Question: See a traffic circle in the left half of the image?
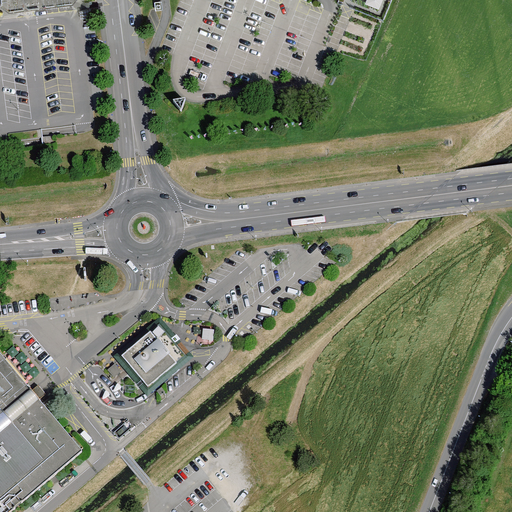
Yes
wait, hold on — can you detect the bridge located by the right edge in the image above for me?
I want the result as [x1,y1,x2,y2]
[397,162,512,222]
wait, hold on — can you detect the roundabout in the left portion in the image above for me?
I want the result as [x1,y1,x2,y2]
[102,182,184,268]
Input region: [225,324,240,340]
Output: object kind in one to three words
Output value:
vehicle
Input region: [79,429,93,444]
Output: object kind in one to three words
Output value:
vehicle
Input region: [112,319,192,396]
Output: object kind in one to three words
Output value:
building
